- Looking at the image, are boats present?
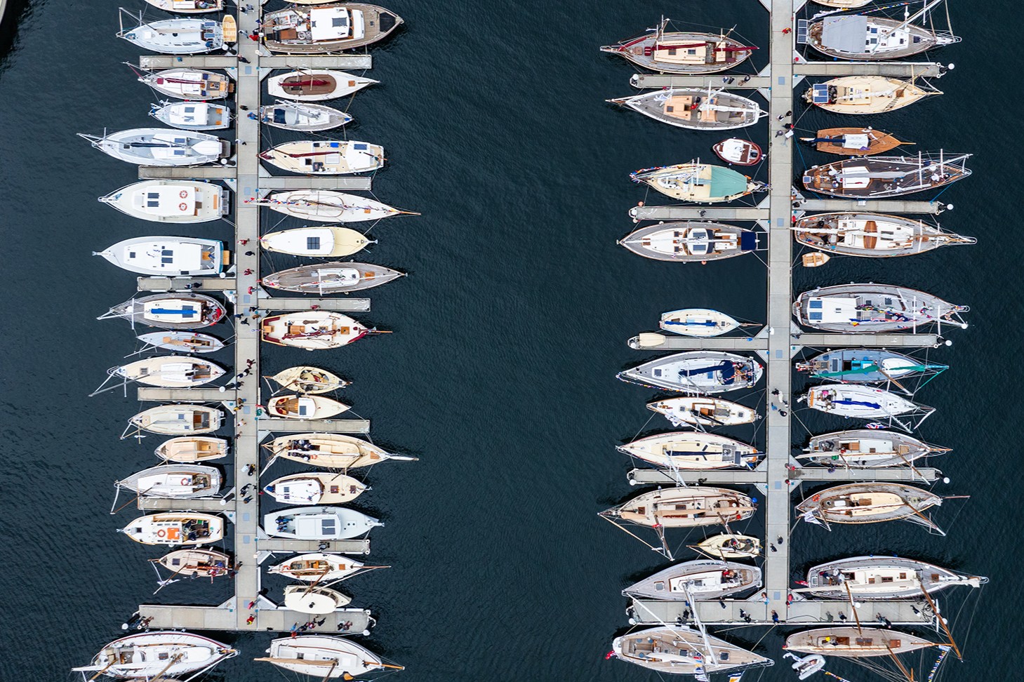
Yes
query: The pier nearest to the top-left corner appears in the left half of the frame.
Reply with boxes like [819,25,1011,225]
[139,44,238,80]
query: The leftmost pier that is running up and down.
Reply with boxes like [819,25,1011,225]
[232,0,268,630]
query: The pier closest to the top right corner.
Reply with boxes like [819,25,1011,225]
[793,52,943,89]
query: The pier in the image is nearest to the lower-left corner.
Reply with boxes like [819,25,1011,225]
[139,591,235,630]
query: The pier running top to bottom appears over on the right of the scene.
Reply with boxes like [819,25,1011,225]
[758,0,805,624]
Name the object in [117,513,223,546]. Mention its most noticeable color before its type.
white boat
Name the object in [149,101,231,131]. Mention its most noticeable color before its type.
white boat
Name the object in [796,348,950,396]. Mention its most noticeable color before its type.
blue boat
